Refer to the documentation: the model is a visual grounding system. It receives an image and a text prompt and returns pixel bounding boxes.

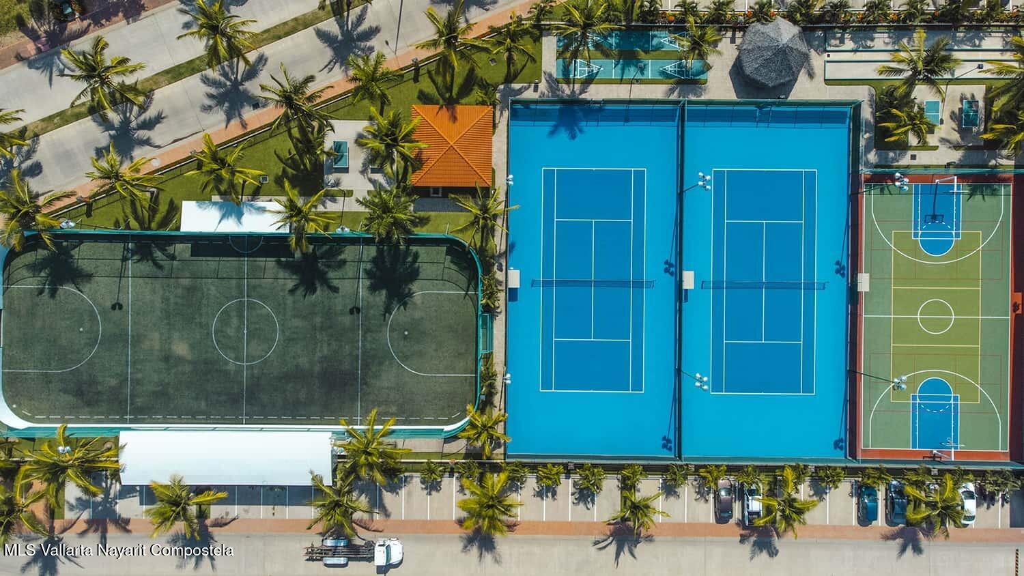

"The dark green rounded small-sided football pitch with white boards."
[1,236,489,426]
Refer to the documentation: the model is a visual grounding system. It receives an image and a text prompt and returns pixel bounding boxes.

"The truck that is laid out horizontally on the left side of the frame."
[306,536,408,569]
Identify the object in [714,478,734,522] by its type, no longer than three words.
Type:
car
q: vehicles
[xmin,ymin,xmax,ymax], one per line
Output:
[955,481,979,526]
[306,536,408,569]
[886,480,909,525]
[858,484,880,523]
[742,477,763,527]
[714,478,734,522]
